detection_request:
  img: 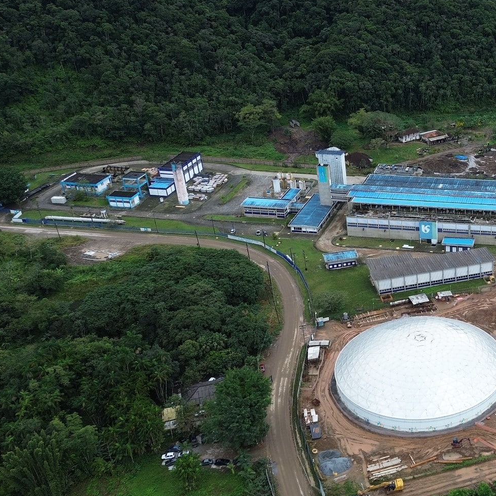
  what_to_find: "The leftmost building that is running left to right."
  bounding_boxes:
[60,172,112,195]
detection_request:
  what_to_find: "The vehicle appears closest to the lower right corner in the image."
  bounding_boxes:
[450,434,474,449]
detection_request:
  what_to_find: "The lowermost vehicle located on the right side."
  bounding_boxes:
[354,477,405,495]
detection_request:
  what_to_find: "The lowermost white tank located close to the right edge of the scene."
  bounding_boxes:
[334,314,496,430]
